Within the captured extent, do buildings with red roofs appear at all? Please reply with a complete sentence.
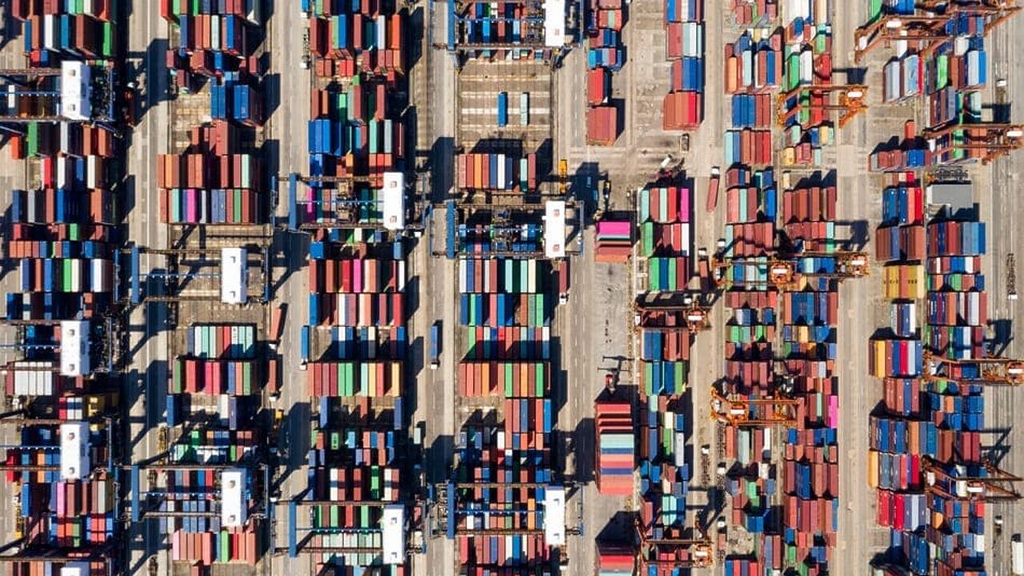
No, this view has no building with a red roof in it.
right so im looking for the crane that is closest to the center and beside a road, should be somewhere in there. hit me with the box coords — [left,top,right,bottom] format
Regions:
[431,199,583,263]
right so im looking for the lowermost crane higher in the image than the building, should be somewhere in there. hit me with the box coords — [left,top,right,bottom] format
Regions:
[923,121,1024,162]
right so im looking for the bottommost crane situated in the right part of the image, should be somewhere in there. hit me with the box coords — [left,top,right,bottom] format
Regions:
[633,517,716,566]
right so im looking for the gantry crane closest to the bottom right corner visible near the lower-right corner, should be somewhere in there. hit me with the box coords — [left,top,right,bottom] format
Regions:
[923,458,1024,502]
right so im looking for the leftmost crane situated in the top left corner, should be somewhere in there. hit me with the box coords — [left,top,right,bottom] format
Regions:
[0,61,128,140]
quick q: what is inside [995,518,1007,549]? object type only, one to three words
vehicle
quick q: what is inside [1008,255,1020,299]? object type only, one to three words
vehicle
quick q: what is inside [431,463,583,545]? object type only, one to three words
crane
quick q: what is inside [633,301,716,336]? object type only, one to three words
container crane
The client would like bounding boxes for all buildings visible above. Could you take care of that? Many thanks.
[933,186,982,215]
